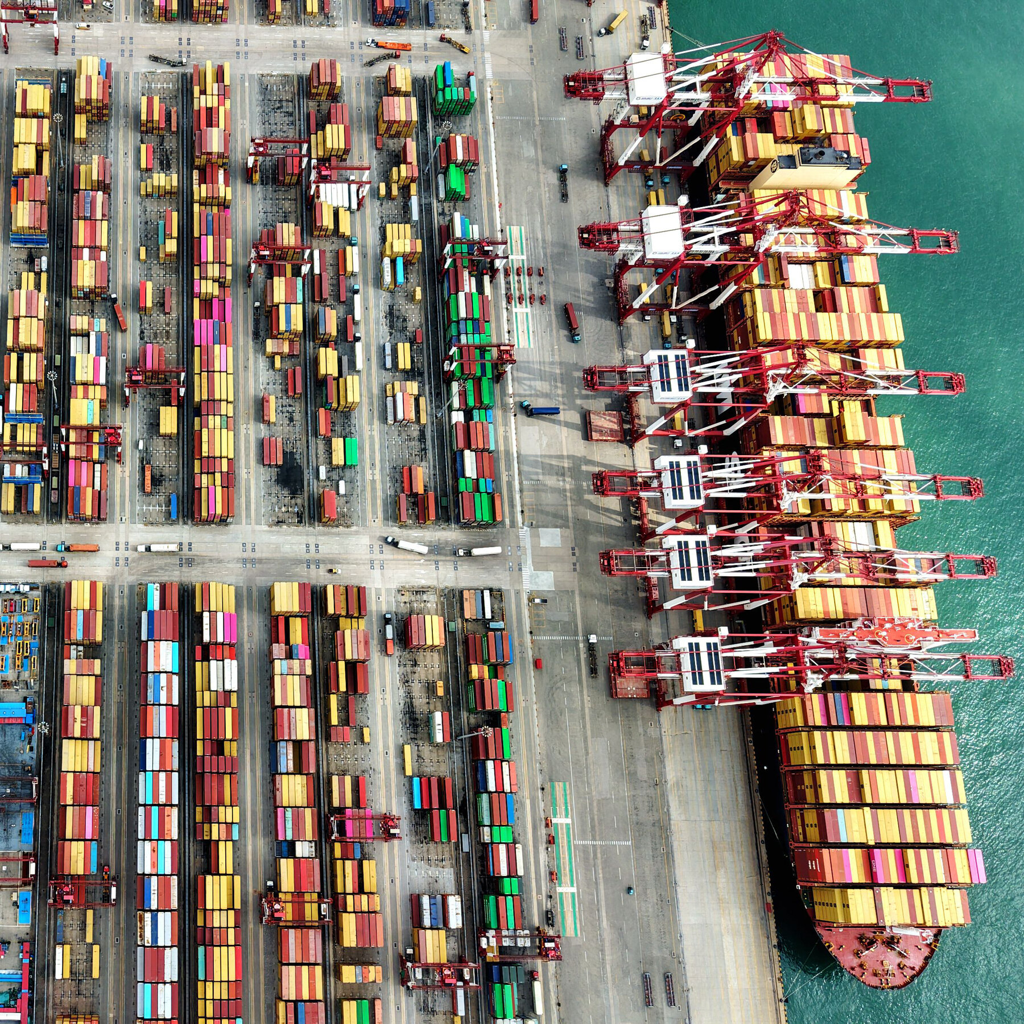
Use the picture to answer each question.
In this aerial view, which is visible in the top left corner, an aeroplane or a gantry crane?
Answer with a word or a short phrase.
gantry crane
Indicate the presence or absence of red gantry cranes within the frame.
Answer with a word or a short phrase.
Yes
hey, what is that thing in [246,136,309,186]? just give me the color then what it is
red container crane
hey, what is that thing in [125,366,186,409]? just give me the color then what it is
red container crane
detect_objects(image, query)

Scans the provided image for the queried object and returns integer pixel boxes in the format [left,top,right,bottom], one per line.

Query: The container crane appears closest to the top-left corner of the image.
[1,5,60,59]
